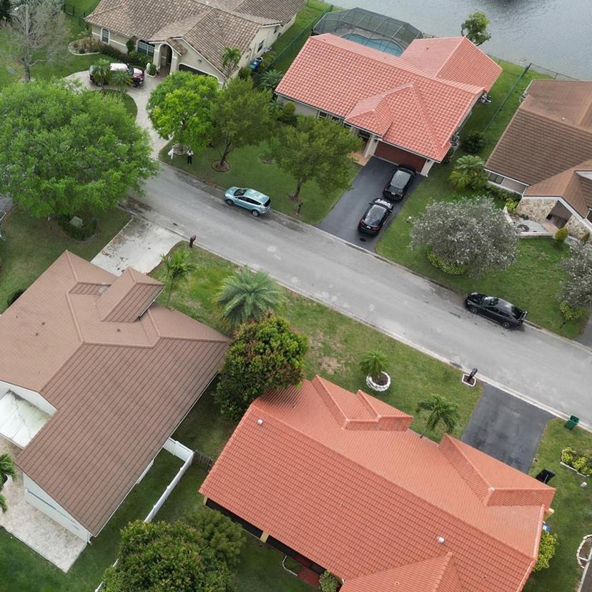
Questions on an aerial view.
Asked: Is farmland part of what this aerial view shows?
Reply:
No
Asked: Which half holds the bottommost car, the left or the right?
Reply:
right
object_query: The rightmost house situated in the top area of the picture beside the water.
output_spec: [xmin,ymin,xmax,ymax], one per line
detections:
[479,79,592,244]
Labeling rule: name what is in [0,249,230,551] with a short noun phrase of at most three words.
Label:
house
